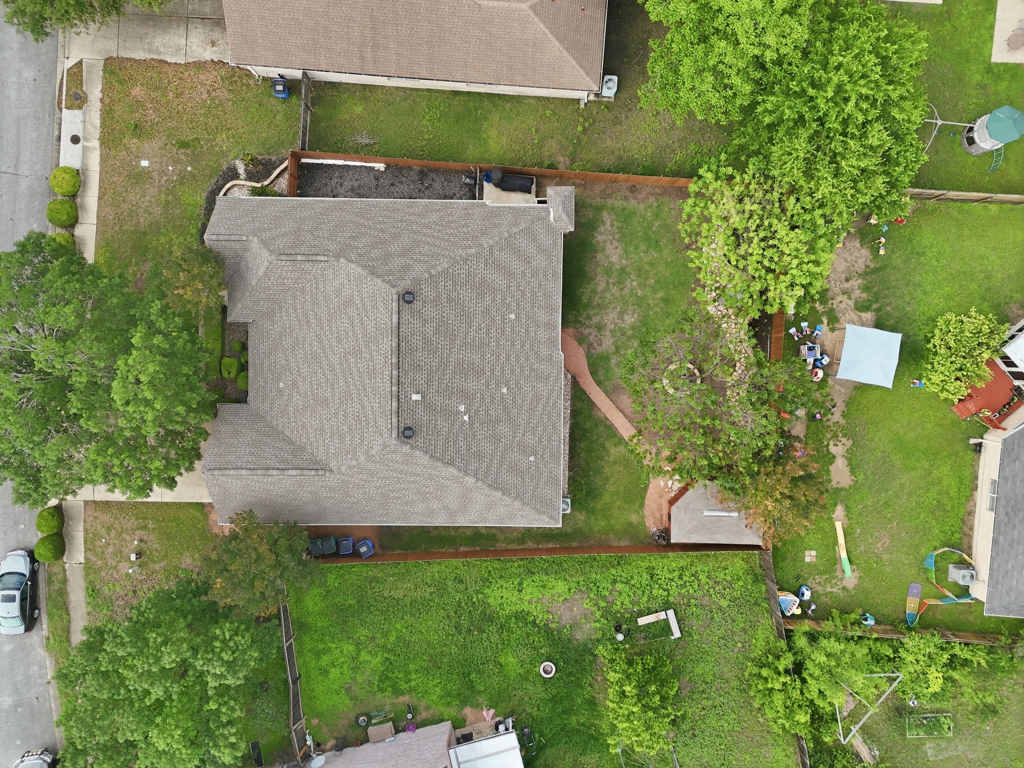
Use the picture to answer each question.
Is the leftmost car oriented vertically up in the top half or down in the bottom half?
bottom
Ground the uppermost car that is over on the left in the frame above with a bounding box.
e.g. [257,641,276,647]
[0,548,41,635]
